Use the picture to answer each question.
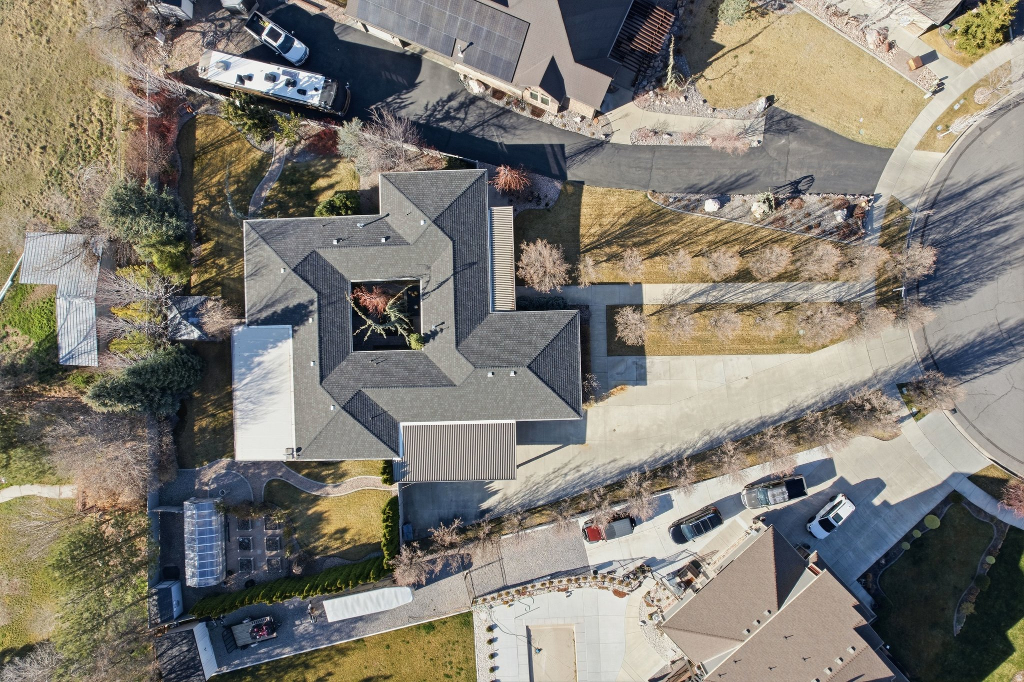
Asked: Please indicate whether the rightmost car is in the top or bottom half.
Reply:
bottom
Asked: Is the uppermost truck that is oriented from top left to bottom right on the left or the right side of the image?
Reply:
left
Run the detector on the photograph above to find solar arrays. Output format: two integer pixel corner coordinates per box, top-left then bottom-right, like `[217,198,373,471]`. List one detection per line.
[354,0,529,84]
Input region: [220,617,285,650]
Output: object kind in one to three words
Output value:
trailer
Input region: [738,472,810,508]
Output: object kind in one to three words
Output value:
truck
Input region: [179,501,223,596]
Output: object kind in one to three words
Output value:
greenhouse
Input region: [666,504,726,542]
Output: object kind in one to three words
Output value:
car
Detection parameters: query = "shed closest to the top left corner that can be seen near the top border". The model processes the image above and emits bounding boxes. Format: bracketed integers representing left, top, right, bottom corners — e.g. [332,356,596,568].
[155,0,205,29]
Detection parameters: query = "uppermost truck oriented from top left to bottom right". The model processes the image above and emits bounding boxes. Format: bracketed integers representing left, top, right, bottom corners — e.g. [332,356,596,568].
[243,10,311,69]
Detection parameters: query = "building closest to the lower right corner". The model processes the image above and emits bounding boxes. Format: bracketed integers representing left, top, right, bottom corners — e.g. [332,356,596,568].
[656,523,934,682]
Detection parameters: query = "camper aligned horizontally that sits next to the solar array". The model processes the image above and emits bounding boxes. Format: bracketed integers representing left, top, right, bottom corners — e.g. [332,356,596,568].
[198,50,356,120]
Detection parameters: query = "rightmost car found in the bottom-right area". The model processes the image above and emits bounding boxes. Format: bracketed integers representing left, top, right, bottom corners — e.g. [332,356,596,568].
[806,491,857,538]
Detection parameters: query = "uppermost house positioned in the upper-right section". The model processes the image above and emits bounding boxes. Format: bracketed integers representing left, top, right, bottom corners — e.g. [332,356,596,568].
[879,0,965,35]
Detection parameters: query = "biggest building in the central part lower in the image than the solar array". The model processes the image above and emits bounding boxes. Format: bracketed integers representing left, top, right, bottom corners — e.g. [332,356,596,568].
[242,169,583,462]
